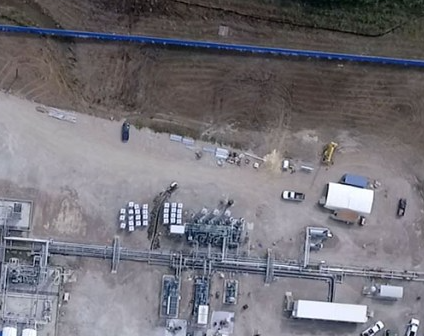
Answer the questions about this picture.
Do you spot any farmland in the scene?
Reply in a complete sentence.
Yes, the picture does contain farmland.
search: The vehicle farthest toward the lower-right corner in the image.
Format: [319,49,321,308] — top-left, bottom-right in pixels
[406,320,418,336]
